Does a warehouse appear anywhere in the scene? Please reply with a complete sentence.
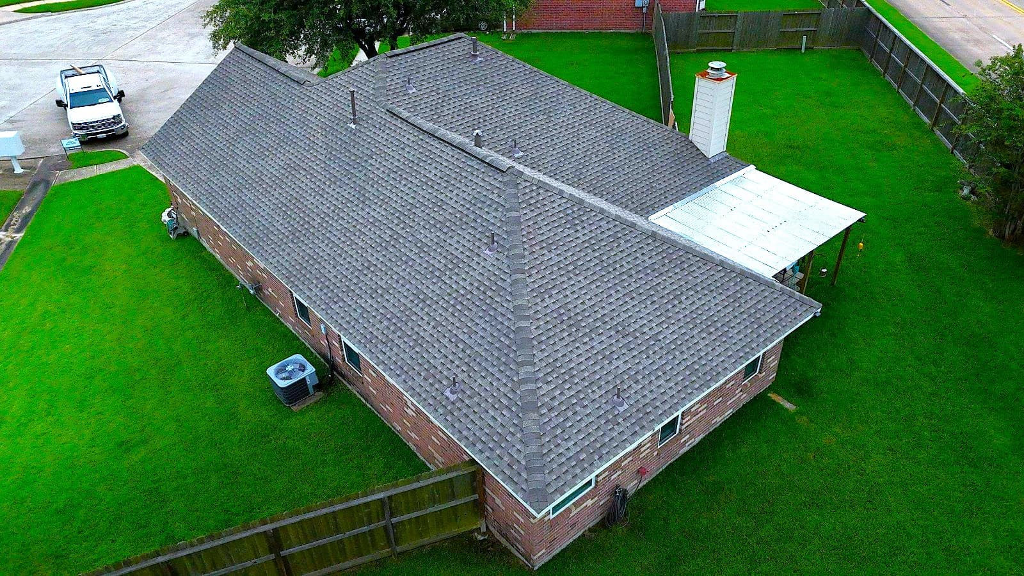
No, there's no warehouse here.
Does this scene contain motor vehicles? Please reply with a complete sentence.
Yes, a motor vehicle can be made out from above.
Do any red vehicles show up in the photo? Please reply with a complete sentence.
No, there appears to be no red vehicle in this shot.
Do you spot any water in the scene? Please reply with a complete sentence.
No, the picture contains no water.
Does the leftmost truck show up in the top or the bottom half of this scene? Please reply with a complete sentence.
The top half of the photo is where the leftmost truck is.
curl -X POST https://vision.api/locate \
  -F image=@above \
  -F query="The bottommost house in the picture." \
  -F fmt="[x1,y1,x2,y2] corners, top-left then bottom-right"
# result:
[139,32,823,572]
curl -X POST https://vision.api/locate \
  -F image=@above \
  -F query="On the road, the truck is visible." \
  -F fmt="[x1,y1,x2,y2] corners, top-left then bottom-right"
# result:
[54,64,130,146]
